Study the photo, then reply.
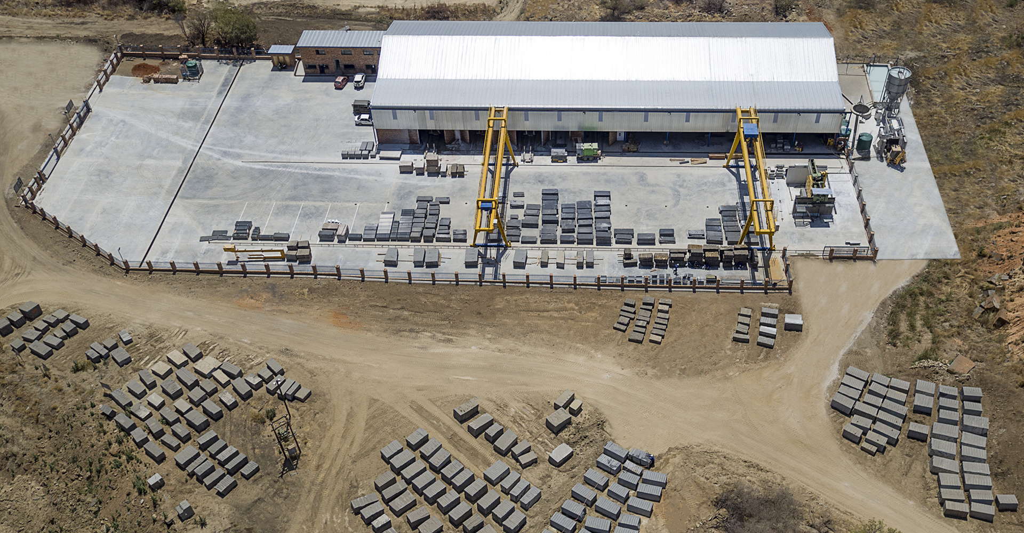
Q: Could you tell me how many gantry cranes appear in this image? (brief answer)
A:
2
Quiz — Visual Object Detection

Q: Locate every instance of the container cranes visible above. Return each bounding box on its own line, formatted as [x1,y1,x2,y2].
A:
[725,107,779,247]
[470,108,520,247]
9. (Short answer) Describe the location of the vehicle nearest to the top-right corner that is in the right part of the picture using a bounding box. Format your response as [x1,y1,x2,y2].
[884,143,904,172]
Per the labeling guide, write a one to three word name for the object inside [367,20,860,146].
shed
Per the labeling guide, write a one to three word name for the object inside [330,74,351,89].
car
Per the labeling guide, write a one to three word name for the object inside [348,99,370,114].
car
